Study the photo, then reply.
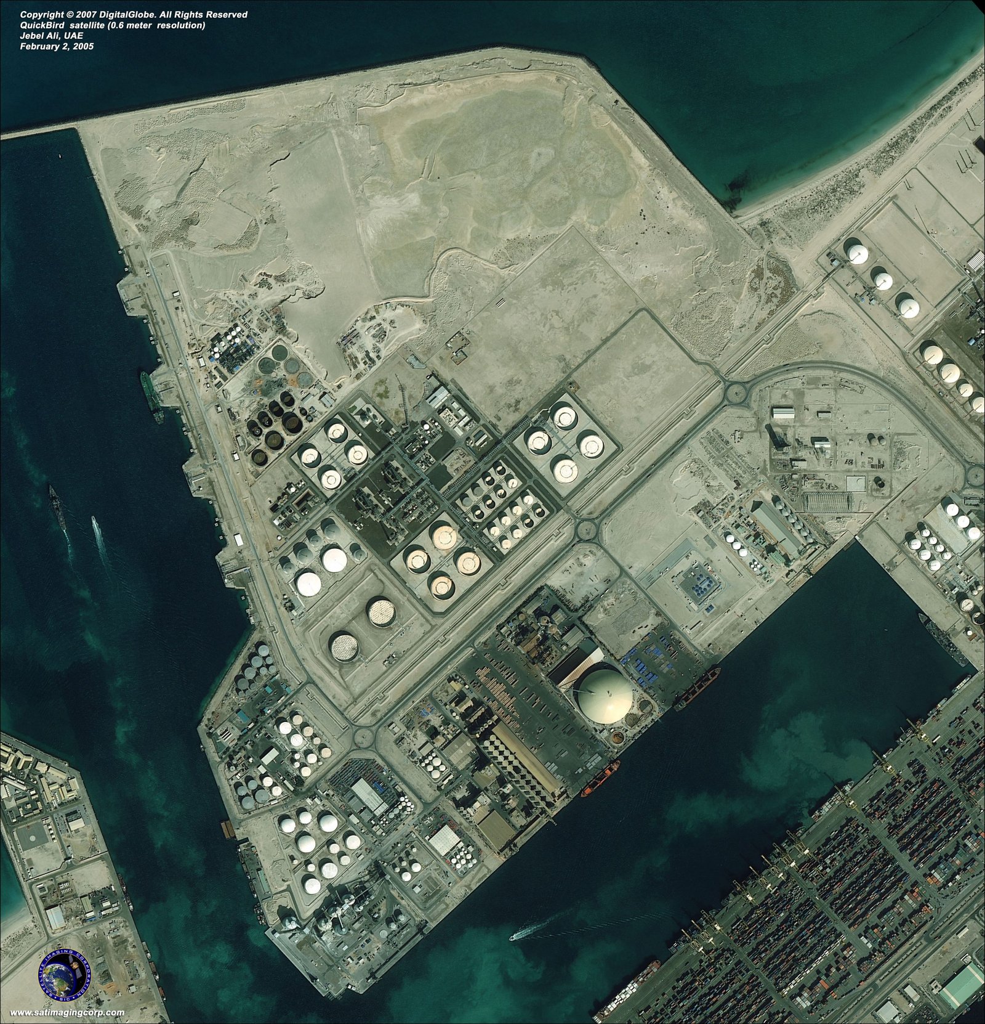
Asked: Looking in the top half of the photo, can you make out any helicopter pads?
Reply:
No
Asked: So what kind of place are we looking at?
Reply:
port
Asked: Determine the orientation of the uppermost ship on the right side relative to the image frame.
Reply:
at an angle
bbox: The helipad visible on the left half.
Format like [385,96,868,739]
[16,822,48,851]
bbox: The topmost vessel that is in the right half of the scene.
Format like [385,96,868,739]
[918,614,968,669]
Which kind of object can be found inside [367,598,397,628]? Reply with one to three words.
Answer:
storage tank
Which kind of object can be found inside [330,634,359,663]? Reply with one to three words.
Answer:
storage tank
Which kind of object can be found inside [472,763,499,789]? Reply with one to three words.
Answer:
house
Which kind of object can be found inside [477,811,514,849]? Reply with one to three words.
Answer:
building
